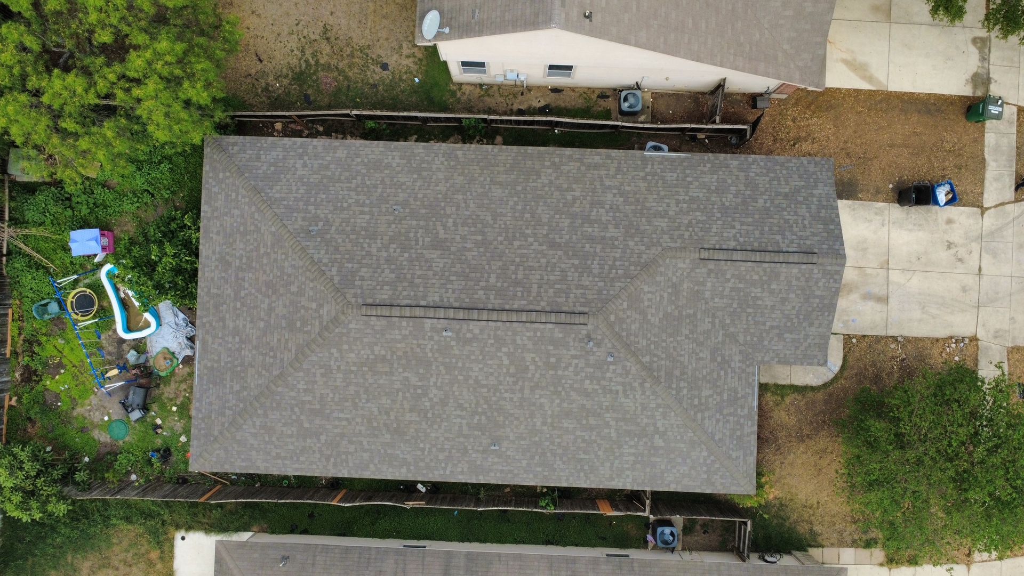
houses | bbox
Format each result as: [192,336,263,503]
[191,135,851,494]
[213,533,849,576]
[416,0,842,100]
